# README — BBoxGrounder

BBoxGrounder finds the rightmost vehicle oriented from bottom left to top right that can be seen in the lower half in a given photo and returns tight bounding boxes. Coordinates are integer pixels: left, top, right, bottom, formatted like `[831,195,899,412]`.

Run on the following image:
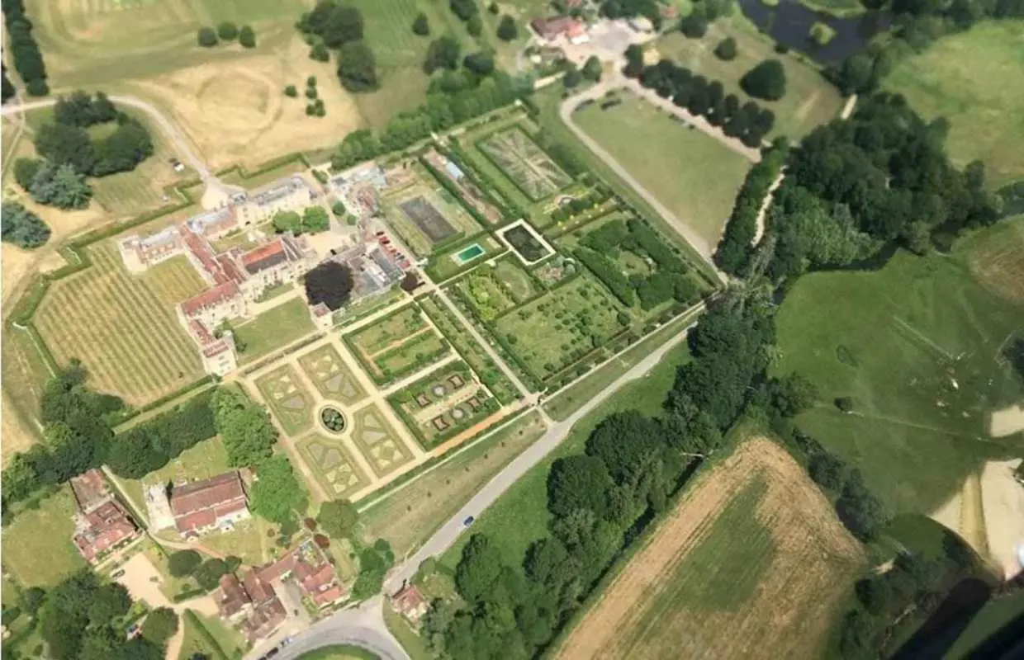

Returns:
[461,514,476,528]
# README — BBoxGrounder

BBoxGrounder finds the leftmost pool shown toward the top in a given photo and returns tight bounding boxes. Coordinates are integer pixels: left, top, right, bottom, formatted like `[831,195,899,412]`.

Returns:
[455,242,486,264]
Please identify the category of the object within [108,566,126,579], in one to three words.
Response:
vehicle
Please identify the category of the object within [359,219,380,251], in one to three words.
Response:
shed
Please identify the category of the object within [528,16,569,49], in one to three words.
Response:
barn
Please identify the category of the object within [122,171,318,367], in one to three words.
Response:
house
